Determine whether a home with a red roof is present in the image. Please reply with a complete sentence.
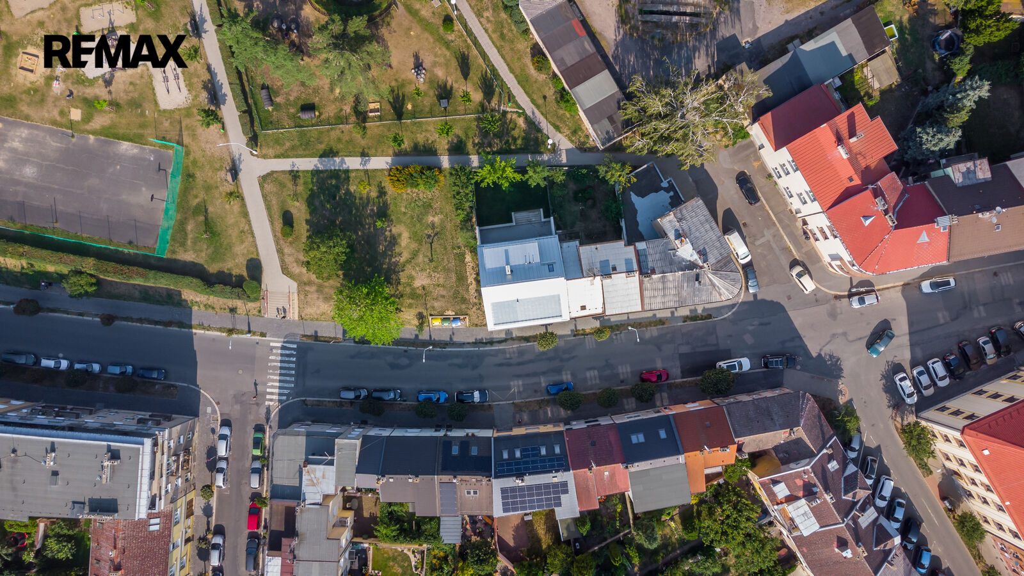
Yes, the image includes a home with a red roof.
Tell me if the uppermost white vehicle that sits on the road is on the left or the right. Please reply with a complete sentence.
The uppermost white vehicle that sits on the road appears in the right half of the scene.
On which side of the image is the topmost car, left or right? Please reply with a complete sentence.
The topmost car is on the right side of the image.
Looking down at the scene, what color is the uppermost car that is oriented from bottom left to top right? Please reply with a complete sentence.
The uppermost car that is oriented from bottom left to top right looks blue in the image.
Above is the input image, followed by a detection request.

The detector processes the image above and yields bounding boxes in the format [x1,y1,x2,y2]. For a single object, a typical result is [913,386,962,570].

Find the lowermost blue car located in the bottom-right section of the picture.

[914,544,932,574]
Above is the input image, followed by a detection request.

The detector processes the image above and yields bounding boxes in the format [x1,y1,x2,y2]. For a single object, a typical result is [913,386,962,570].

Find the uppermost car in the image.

[735,171,760,205]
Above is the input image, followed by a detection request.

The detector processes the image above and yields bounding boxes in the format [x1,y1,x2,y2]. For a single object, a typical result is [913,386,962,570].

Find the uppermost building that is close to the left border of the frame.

[0,397,199,521]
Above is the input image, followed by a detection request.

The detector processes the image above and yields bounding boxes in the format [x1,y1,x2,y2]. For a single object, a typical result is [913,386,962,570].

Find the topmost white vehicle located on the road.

[724,227,750,265]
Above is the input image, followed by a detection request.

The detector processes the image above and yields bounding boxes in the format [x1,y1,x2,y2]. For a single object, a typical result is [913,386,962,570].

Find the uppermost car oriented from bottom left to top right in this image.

[865,329,897,357]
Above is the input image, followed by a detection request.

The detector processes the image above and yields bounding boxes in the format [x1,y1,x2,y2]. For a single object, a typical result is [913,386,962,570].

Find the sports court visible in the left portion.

[0,116,173,246]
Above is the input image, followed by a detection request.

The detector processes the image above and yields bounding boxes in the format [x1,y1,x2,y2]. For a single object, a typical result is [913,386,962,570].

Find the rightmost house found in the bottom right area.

[917,362,1024,576]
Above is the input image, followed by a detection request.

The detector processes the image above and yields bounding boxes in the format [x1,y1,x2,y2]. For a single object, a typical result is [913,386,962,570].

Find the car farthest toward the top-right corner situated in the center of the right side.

[918,277,955,293]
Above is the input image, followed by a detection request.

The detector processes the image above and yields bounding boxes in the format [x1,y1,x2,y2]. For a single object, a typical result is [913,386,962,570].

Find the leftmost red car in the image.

[247,500,261,531]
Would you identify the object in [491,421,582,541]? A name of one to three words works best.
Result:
house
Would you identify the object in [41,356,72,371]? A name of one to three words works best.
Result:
car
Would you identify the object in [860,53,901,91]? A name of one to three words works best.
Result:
shed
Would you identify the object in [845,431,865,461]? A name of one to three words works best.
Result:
car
